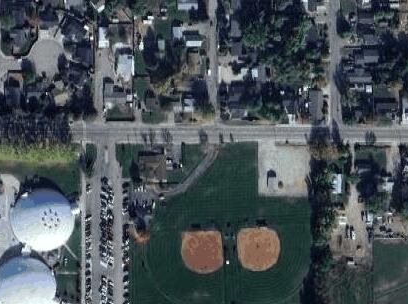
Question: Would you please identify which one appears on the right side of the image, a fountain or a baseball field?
baseball field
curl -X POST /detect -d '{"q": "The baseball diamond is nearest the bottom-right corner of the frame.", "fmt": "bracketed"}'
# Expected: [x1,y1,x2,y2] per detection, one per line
[231,197,311,304]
